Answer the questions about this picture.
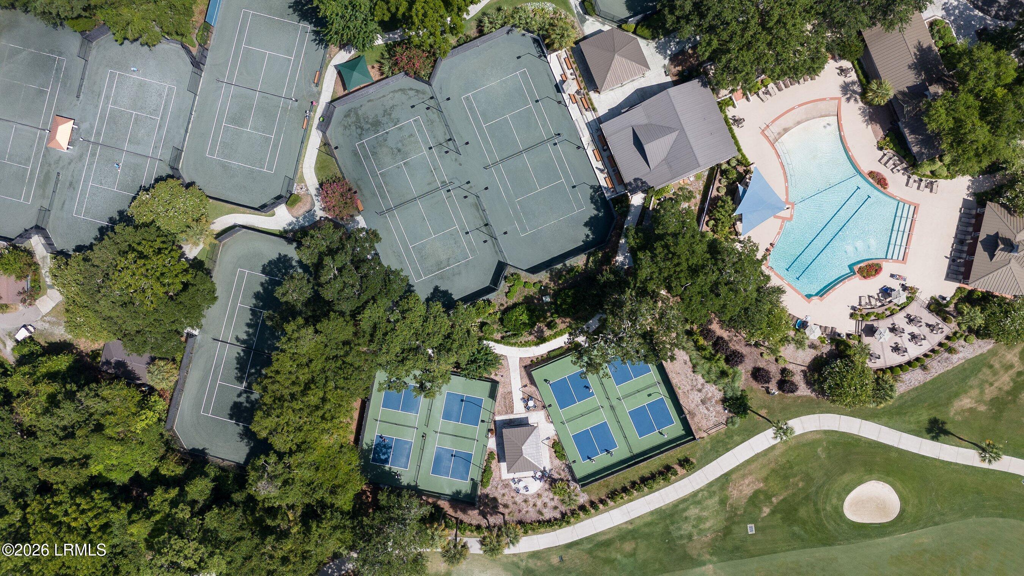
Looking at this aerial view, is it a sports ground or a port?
sports ground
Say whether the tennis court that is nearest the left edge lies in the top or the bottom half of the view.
top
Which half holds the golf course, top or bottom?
bottom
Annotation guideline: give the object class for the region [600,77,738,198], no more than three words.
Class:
building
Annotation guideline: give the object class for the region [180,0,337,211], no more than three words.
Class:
tennis court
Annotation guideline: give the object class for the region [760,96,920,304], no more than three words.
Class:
swimming pool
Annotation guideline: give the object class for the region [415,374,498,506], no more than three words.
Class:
sports court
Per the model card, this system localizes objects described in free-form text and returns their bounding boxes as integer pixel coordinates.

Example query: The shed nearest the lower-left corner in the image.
[100,343,160,383]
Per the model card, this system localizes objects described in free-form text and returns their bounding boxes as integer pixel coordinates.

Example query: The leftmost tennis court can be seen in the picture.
[0,1,92,238]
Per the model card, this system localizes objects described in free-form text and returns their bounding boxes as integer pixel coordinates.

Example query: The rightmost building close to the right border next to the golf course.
[957,202,1024,298]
